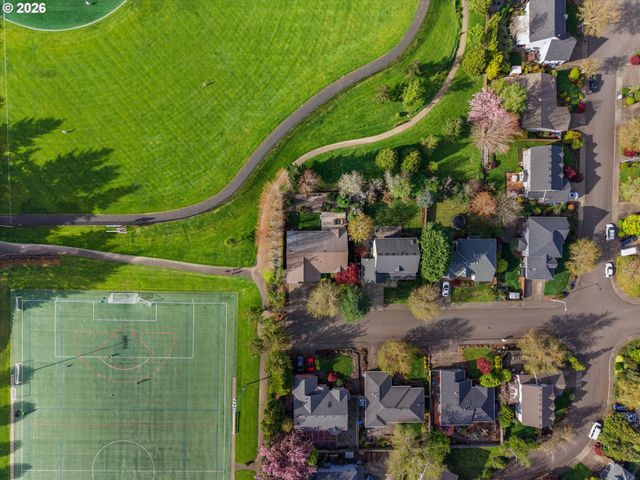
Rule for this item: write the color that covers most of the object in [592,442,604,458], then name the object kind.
red vehicle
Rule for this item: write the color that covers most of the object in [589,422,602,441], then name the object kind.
white vehicle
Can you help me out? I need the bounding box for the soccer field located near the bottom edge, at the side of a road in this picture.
[8,290,238,480]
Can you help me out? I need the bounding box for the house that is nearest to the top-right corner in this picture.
[521,0,578,66]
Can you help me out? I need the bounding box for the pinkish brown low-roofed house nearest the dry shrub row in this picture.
[286,211,349,284]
